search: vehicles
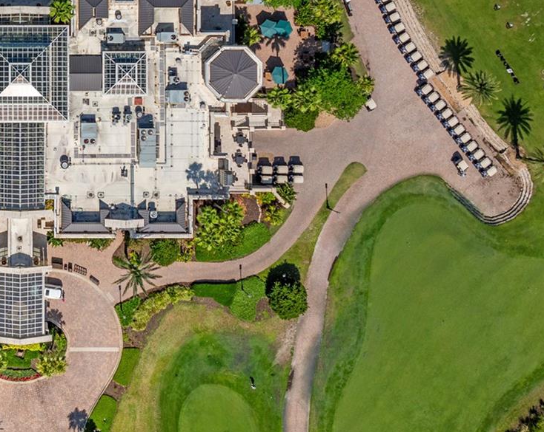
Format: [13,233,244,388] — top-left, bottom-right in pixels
[409,58,429,72]
[387,20,406,35]
[271,174,289,183]
[472,155,493,170]
[416,81,435,97]
[465,147,485,162]
[49,284,68,298]
[256,174,274,183]
[287,163,304,172]
[391,30,411,44]
[458,139,479,154]
[377,0,397,14]
[478,164,499,178]
[449,155,469,172]
[414,67,435,80]
[420,90,440,104]
[453,131,473,146]
[361,96,377,112]
[382,10,402,24]
[397,40,417,54]
[446,122,466,137]
[434,105,454,120]
[256,164,274,173]
[403,50,422,64]
[286,174,303,183]
[440,113,461,128]
[272,164,289,172]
